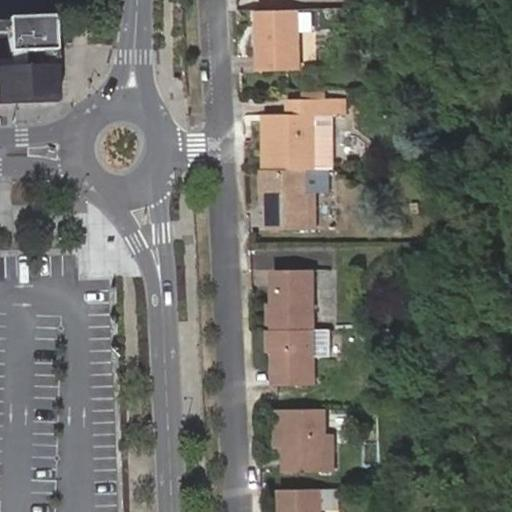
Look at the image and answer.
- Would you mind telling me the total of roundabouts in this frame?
1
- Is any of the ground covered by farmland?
No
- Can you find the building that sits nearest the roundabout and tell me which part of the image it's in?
top left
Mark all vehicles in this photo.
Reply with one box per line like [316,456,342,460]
[199,60,210,81]
[18,256,29,284]
[94,483,115,494]
[102,77,118,99]
[248,468,259,489]
[33,469,54,480]
[35,350,56,360]
[40,257,50,276]
[29,503,50,512]
[34,410,55,420]
[252,372,268,384]
[85,292,104,302]
[163,282,174,304]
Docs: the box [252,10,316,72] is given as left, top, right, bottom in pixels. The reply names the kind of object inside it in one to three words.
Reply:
house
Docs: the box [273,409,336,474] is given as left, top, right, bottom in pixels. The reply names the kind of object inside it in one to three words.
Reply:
house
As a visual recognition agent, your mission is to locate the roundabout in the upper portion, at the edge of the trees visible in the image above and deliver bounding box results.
[69,98,171,199]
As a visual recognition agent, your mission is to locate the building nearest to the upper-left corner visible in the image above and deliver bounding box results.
[0,0,63,103]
